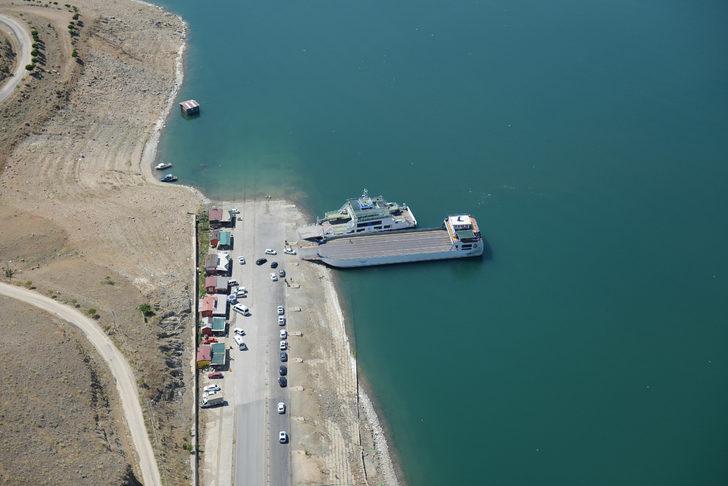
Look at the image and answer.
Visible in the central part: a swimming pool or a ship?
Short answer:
ship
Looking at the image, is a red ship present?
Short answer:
No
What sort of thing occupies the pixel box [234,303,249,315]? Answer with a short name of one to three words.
vehicle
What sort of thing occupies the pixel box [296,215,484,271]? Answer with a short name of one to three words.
ship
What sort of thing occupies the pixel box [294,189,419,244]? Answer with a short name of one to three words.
ship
